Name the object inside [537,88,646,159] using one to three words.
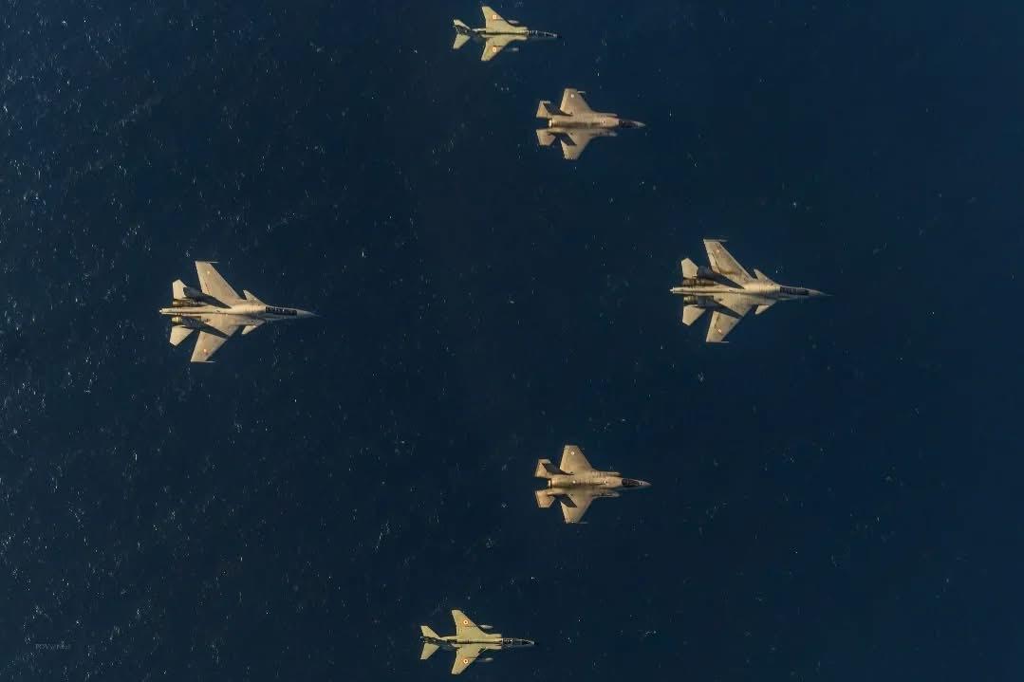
airplane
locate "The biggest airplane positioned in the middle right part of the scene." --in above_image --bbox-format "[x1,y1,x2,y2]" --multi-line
[669,241,829,343]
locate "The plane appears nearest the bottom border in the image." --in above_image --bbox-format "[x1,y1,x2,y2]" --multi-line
[420,610,534,674]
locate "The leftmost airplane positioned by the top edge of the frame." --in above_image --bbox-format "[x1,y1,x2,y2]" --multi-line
[453,6,559,59]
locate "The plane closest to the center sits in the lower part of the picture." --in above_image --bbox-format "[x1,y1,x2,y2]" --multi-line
[536,445,651,523]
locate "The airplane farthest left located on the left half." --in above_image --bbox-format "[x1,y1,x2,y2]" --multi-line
[158,262,314,363]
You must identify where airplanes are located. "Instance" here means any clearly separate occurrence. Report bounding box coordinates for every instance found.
[453,6,559,59]
[158,262,314,363]
[420,610,534,674]
[669,241,829,343]
[536,445,651,523]
[537,88,646,159]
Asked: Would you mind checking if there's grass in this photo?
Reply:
No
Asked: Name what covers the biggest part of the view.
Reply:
water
